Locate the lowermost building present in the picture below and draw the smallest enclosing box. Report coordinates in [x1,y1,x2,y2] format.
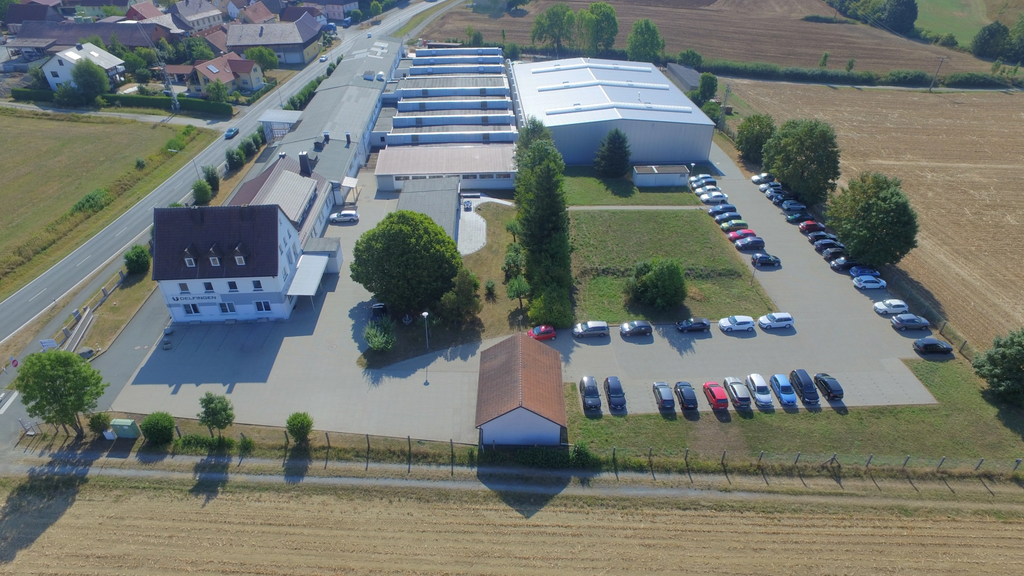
[475,320,574,452]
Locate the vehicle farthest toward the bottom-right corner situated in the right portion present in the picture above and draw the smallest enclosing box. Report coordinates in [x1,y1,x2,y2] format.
[909,337,951,354]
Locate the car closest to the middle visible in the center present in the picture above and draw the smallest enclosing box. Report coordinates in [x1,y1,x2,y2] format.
[526,323,557,340]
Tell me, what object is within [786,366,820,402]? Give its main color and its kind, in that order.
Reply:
blue car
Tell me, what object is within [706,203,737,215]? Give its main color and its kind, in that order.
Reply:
blue vehicle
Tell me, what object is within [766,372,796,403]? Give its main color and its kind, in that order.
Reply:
blue car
